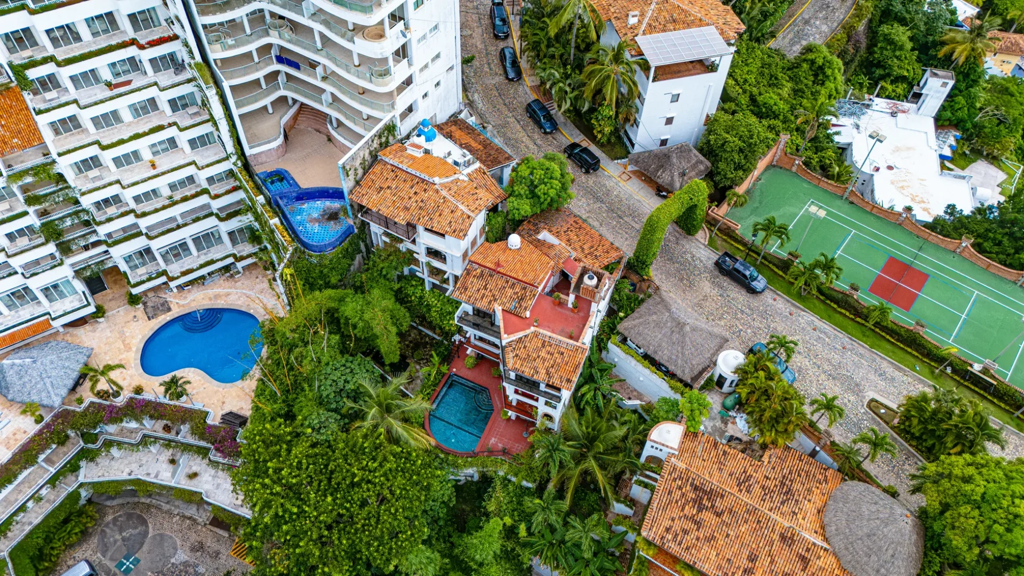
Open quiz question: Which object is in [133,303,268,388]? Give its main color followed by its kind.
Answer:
blue swimming pool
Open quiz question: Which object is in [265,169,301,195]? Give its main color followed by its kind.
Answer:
blue swimming pool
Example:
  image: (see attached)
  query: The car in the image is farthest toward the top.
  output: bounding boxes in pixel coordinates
[487,0,512,36]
